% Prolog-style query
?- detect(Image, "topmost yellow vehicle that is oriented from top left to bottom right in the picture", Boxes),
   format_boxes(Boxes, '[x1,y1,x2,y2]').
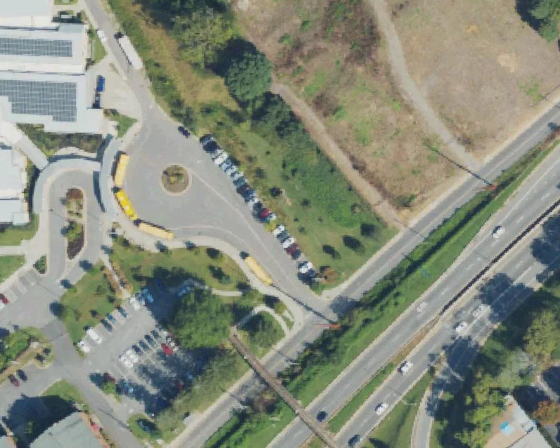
[114,189,136,220]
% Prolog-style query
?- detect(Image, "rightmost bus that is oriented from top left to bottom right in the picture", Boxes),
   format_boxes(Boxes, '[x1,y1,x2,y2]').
[245,256,273,285]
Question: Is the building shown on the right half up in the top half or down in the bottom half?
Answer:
bottom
